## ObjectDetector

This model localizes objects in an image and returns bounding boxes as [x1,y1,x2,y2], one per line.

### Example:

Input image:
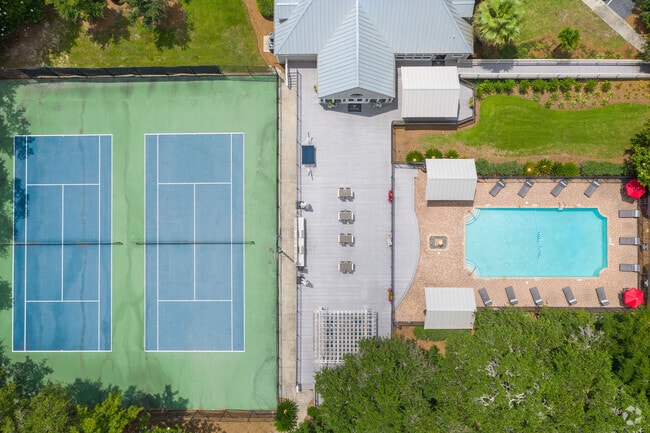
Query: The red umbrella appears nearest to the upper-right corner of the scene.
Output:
[620,180,645,200]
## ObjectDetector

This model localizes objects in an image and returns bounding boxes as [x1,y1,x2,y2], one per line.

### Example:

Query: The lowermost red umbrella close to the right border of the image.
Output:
[618,287,642,309]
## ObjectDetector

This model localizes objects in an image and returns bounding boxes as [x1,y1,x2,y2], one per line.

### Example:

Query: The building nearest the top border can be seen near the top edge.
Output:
[273,0,477,104]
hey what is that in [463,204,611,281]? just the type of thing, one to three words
swimming pool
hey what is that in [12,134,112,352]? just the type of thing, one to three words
tennis court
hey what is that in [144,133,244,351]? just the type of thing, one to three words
tennis court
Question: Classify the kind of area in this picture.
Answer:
sports ground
